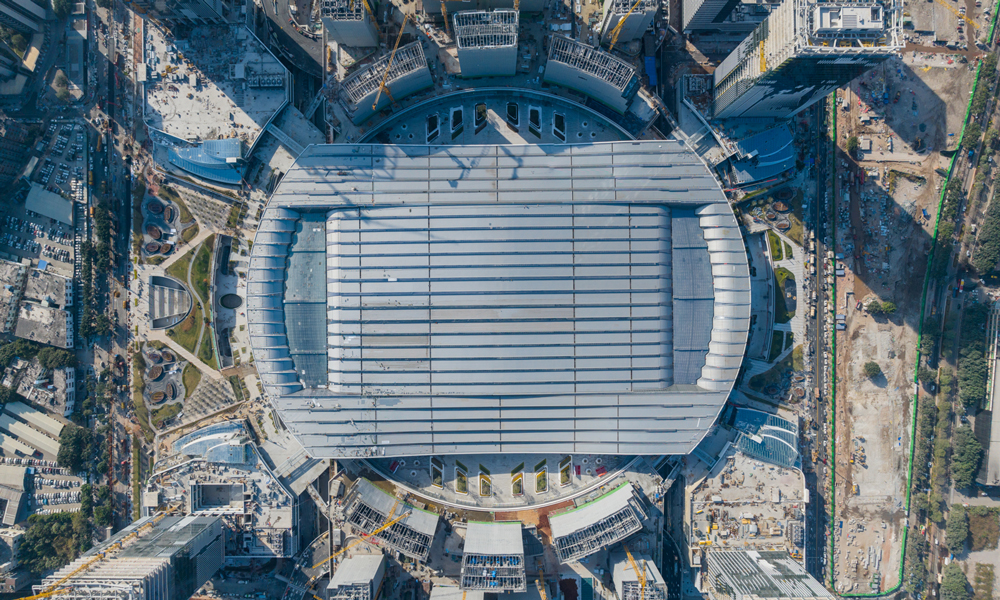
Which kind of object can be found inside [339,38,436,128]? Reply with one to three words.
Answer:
building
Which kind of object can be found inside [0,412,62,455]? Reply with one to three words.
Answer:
shed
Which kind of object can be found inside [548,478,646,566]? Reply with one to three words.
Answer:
building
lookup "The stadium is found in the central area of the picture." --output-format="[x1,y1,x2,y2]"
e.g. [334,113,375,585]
[246,139,752,460]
